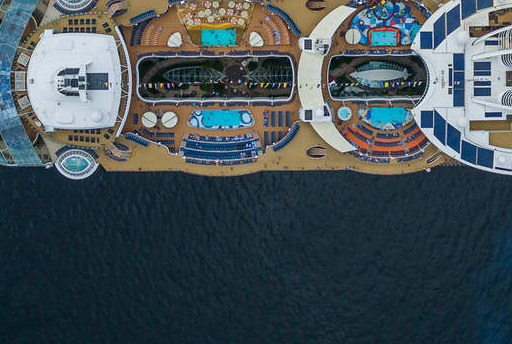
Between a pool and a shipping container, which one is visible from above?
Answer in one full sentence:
This aerial view contains a pool.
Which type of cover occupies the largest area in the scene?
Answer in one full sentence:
Most of the picture is covered by water.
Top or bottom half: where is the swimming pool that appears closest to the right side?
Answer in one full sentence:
It is in the top half that the swimming pool that appears closest to the right side appears.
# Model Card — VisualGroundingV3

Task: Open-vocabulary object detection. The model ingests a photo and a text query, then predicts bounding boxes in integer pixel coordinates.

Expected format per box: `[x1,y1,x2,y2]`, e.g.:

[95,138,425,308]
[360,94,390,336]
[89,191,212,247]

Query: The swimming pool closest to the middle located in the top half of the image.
[188,108,256,131]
